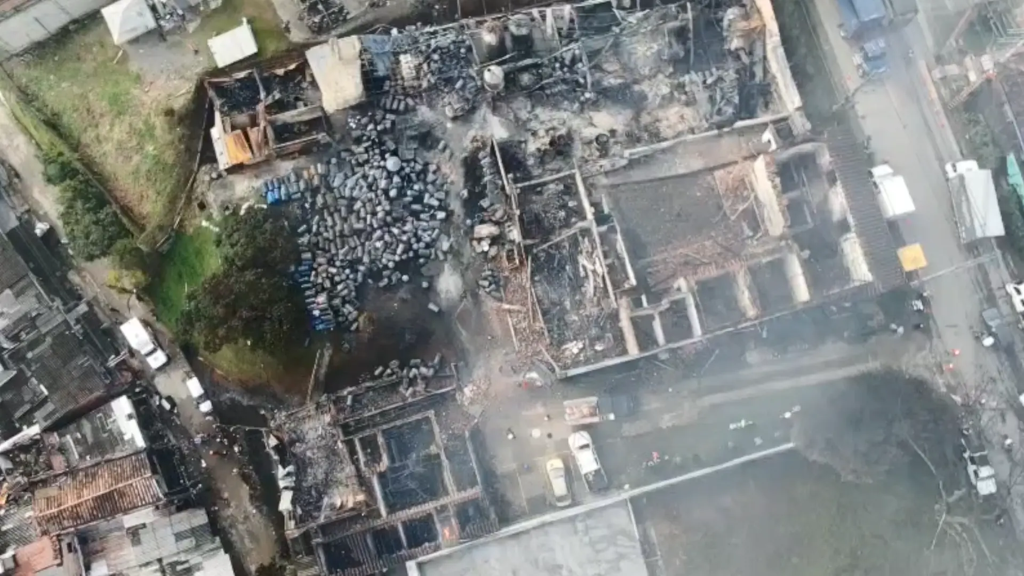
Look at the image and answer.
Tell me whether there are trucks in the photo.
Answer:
Yes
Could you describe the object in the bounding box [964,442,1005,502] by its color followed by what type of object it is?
white truck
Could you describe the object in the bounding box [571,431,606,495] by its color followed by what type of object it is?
white truck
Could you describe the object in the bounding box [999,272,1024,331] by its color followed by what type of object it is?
white vehicle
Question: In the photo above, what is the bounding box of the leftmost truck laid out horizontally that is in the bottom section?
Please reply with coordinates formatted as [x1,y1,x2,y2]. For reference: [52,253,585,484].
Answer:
[564,395,637,426]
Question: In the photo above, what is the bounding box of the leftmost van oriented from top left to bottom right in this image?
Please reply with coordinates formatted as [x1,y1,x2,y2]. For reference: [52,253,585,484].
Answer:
[111,316,166,371]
